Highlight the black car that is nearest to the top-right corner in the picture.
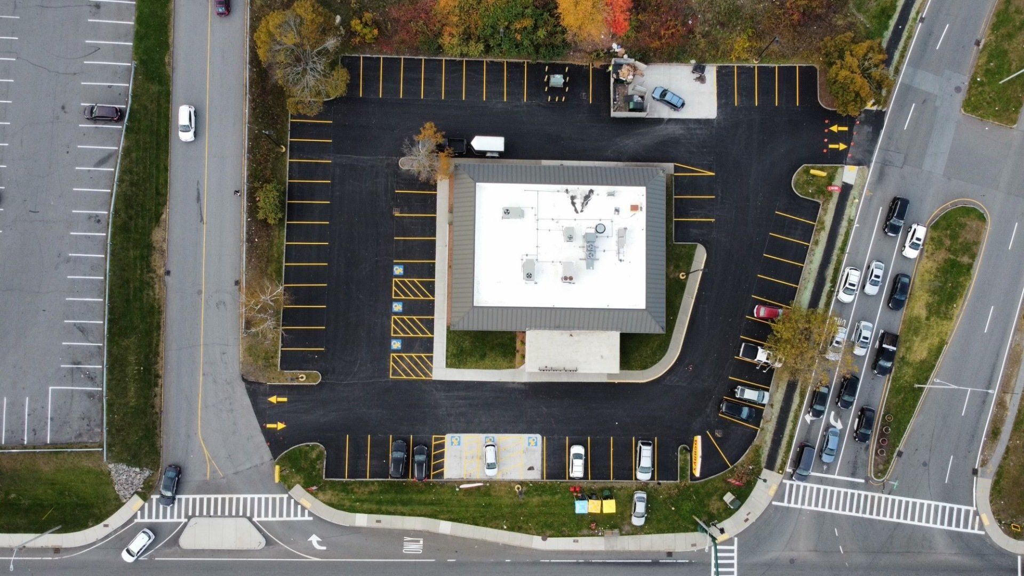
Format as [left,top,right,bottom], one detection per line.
[882,196,908,237]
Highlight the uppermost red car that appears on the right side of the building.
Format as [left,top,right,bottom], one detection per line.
[753,304,791,322]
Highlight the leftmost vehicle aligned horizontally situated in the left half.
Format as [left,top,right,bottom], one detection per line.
[86,104,124,122]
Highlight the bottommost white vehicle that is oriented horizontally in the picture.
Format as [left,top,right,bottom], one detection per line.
[732,385,770,405]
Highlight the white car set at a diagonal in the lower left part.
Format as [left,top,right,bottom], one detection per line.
[122,527,157,562]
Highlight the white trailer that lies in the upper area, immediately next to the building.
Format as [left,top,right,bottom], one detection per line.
[467,136,505,157]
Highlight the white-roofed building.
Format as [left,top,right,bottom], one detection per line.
[450,163,666,374]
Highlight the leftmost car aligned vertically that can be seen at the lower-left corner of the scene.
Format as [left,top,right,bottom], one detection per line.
[159,464,182,504]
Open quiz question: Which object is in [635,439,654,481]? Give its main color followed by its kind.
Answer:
white vehicle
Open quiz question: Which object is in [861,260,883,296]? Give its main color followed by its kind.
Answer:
white car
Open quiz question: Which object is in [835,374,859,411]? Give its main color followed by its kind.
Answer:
black car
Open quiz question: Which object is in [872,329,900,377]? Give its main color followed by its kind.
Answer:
black truck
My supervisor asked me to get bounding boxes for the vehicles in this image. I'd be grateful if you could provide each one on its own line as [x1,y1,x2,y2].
[901,223,925,259]
[826,325,848,361]
[718,399,756,421]
[732,385,770,405]
[887,273,910,311]
[390,439,408,479]
[835,374,859,411]
[737,342,783,369]
[650,87,686,114]
[482,442,499,477]
[872,329,900,377]
[852,405,875,444]
[569,443,586,479]
[850,319,872,356]
[178,105,196,141]
[882,196,908,237]
[214,0,231,17]
[753,304,791,322]
[807,384,830,420]
[818,426,840,463]
[837,267,859,304]
[159,464,182,504]
[86,104,124,122]
[790,441,814,482]
[630,488,648,527]
[861,260,883,296]
[122,527,157,562]
[411,443,429,482]
[635,439,654,481]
